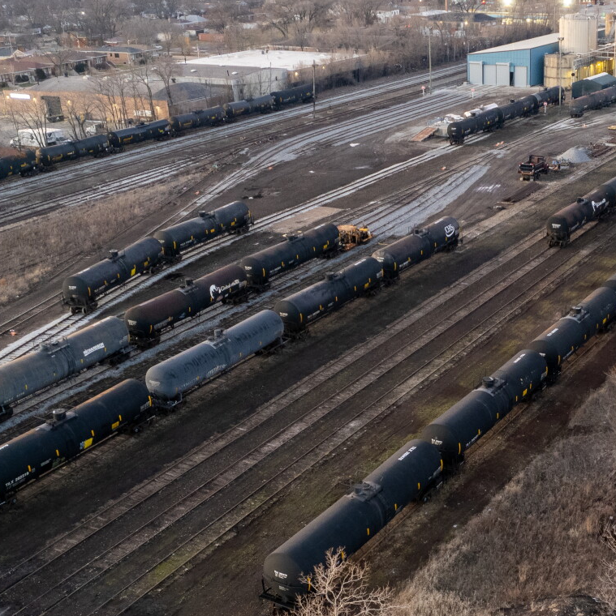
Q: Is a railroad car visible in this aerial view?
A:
Yes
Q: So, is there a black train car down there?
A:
Yes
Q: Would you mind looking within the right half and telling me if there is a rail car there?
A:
Yes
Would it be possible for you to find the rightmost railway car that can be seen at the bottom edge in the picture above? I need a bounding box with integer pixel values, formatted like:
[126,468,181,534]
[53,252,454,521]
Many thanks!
[262,440,447,615]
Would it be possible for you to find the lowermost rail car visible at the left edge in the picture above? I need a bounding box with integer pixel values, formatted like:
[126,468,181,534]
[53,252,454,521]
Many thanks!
[0,379,168,508]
